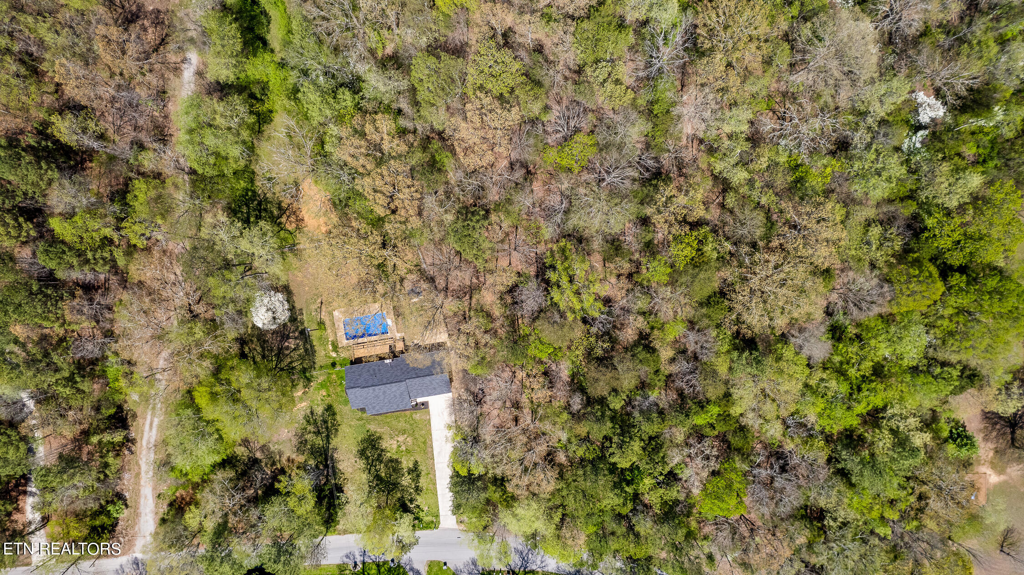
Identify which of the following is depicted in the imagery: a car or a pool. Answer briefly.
pool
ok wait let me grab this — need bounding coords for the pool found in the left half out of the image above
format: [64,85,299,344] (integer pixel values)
[341,312,390,342]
